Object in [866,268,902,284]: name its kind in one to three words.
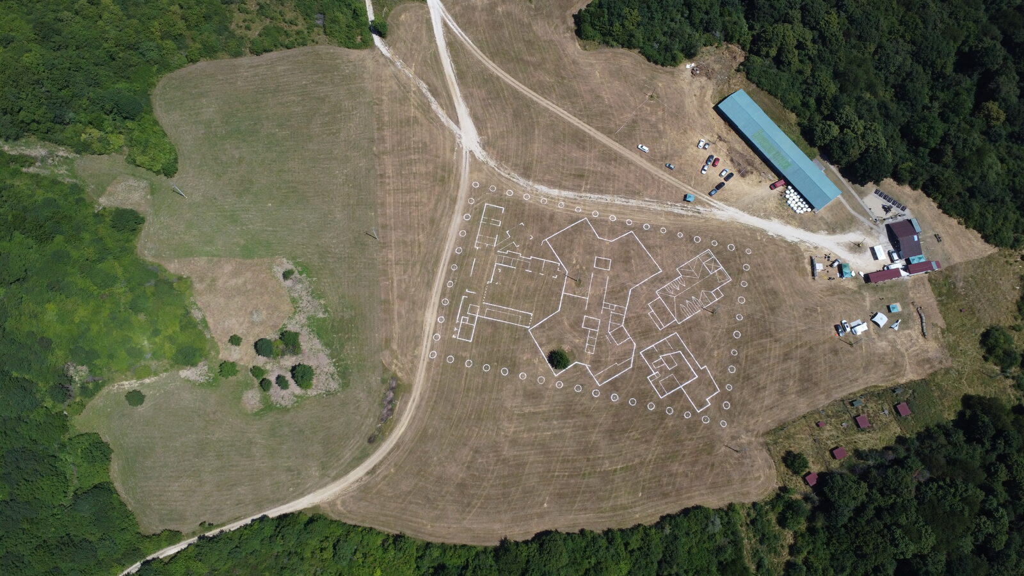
shed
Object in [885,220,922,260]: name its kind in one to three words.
house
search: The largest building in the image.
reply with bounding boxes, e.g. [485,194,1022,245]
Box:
[717,89,842,214]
